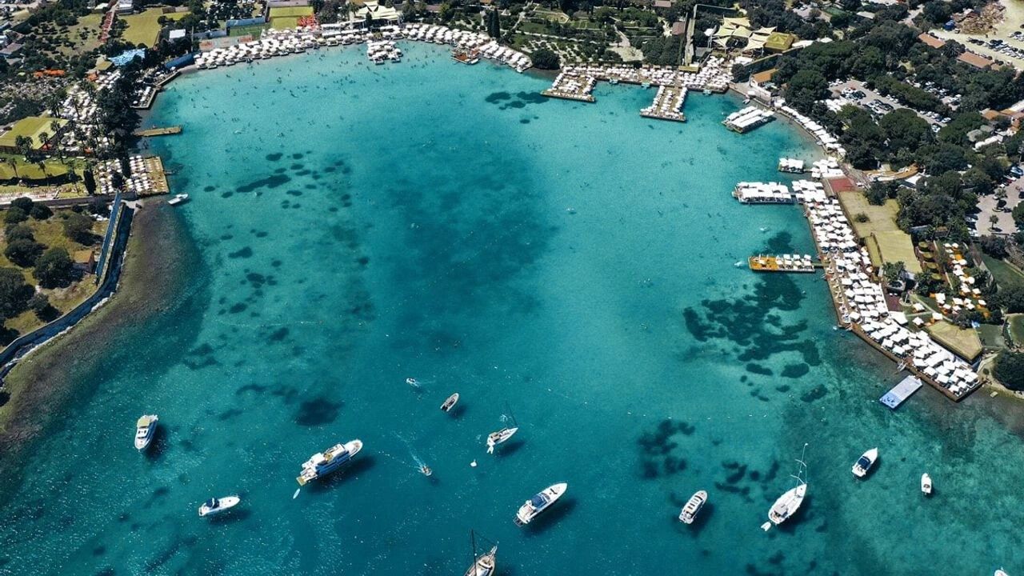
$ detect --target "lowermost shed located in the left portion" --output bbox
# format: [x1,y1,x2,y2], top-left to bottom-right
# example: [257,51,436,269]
[74,246,94,270]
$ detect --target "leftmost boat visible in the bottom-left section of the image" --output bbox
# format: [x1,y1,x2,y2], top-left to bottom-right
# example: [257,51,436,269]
[137,411,160,451]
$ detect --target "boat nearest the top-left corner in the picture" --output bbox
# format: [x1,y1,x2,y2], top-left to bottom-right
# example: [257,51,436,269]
[168,194,188,206]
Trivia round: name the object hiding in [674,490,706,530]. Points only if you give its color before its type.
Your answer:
white boat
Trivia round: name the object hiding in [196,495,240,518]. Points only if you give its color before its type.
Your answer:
white boat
